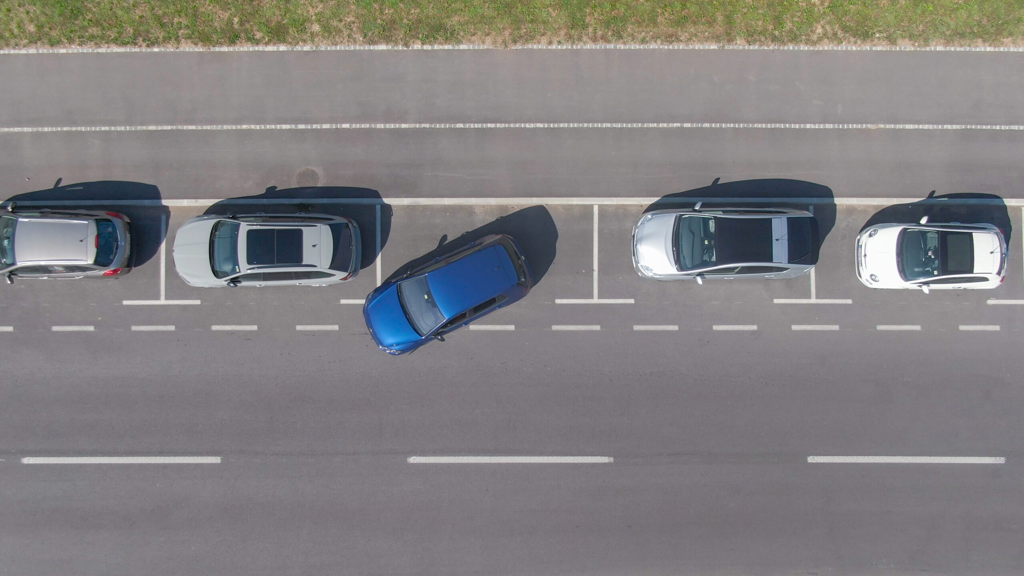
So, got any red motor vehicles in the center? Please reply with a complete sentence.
No, looking in the center, there is no red motor vehicle.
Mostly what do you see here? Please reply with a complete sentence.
The largest share of the image is taken up by paved ground.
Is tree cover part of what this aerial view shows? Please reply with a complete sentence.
No, there is no tree cover in the image.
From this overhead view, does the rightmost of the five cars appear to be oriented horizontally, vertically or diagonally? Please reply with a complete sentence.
The rightmost of the five cars is oriented horizontally.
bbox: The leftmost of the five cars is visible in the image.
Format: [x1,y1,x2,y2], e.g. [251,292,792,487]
[0,203,138,284]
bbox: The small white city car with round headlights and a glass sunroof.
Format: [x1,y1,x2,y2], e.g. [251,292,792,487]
[854,216,1007,294]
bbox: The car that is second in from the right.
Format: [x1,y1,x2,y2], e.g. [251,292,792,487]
[631,201,820,285]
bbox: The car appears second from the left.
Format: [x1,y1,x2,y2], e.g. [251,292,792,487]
[172,210,363,289]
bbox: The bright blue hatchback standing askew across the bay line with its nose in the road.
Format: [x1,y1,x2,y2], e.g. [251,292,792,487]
[362,230,533,355]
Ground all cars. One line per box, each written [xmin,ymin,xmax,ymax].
[854,216,1007,294]
[0,203,138,284]
[172,210,363,289]
[631,201,820,285]
[362,230,533,355]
